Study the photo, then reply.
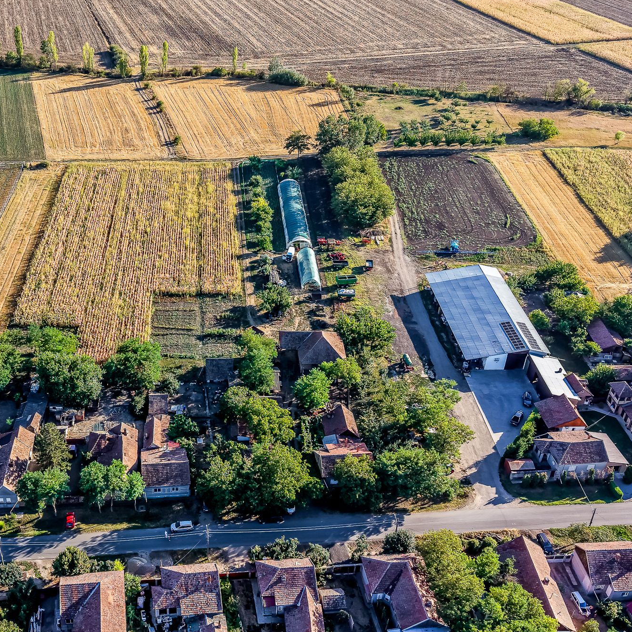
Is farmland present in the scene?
Yes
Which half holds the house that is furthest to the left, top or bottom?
bottom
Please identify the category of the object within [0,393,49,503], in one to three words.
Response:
house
